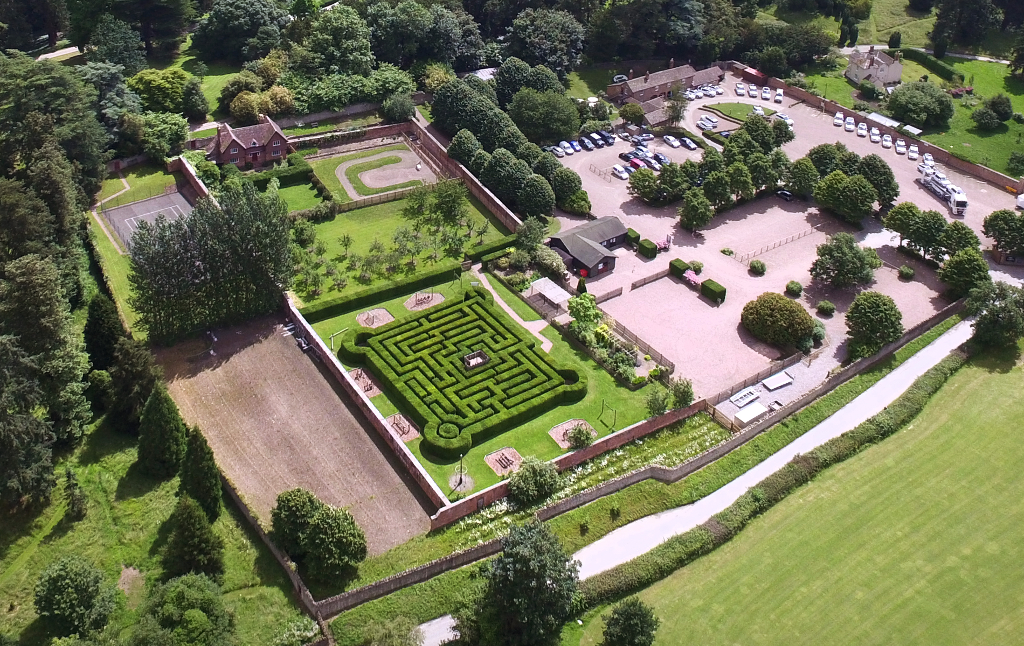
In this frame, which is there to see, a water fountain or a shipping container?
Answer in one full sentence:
Of the two, only a shipping container appears.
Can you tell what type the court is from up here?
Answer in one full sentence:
I'd say the court is a tennis court.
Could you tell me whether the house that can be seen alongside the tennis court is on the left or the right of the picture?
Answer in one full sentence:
The house that can be seen alongside the tennis court sits on the left side.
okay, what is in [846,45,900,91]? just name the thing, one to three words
house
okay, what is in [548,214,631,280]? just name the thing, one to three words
barn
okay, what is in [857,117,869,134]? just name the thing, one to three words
vehicle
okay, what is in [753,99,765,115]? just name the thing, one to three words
vehicle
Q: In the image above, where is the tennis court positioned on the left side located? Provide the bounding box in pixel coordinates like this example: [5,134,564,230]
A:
[100,191,203,257]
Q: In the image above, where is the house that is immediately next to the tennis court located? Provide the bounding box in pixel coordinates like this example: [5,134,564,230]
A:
[200,112,290,166]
